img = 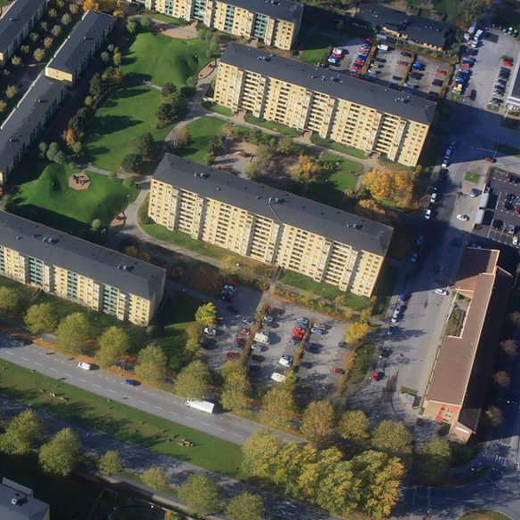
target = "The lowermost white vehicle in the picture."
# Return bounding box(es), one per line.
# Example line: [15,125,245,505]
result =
[182,394,220,415]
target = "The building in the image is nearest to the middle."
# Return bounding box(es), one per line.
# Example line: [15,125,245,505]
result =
[149,153,394,295]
